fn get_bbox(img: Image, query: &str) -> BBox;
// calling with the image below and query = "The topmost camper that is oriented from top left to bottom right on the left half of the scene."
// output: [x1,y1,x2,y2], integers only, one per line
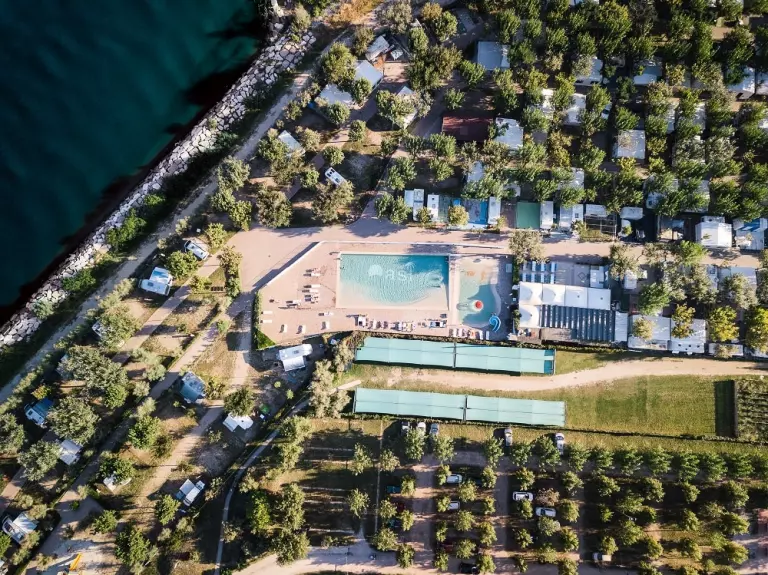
[278,131,305,160]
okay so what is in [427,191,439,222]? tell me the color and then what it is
white vehicle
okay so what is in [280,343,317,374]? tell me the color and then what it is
white camper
